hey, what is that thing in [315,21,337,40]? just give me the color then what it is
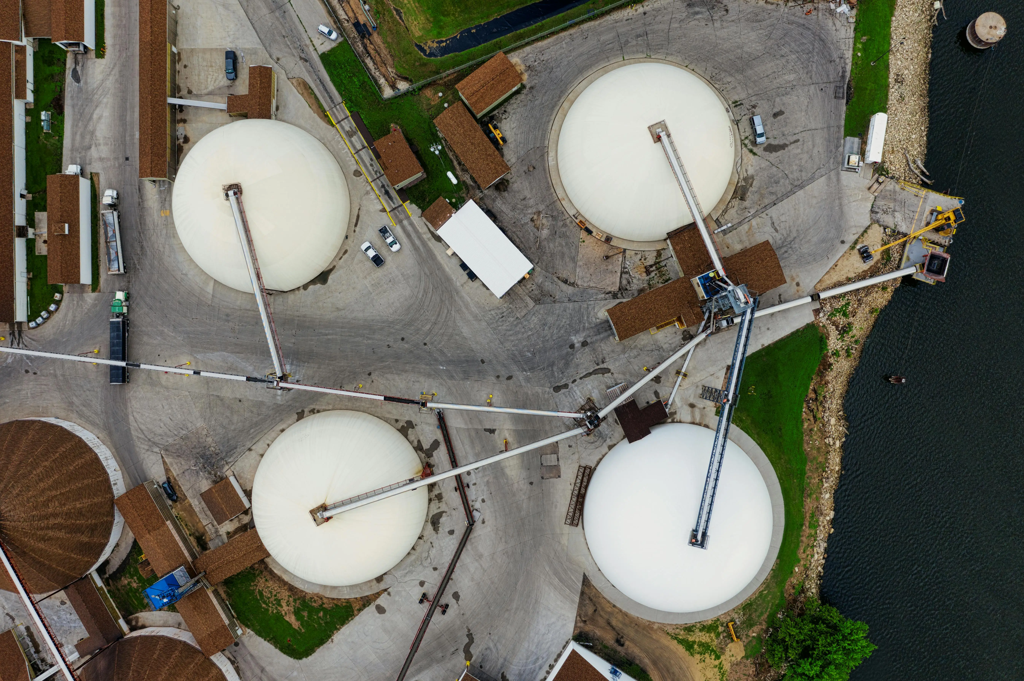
white car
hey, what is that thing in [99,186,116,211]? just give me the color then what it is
white vehicle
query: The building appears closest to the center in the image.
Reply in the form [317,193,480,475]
[437,199,534,299]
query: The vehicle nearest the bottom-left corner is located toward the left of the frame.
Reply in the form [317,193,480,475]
[159,481,176,503]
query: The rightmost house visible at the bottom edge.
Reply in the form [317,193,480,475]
[546,641,616,681]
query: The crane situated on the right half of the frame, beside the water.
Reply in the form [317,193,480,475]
[856,205,969,266]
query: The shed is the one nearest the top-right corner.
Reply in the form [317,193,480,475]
[722,240,787,297]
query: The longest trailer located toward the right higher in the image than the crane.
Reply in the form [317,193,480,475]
[864,111,887,165]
